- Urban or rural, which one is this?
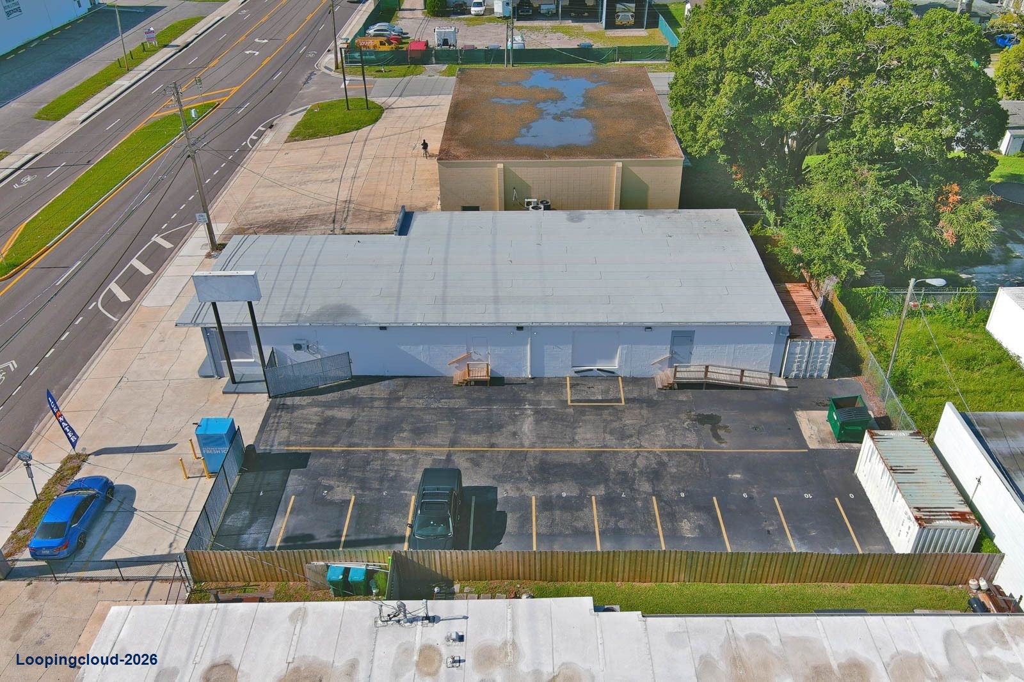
urban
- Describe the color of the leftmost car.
blue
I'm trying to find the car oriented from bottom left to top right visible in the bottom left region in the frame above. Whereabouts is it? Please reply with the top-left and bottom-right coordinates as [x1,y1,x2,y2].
[22,477,114,561]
